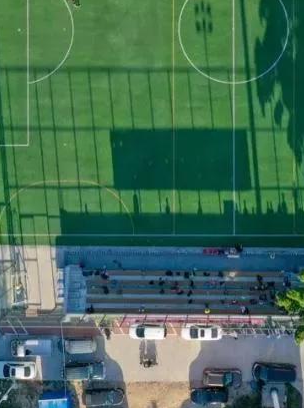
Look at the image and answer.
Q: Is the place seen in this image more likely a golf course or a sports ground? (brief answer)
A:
sports ground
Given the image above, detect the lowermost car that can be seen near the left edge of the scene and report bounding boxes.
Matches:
[0,360,37,381]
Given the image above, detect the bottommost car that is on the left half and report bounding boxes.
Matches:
[86,387,124,408]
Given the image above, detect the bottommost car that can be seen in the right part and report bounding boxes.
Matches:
[190,386,229,406]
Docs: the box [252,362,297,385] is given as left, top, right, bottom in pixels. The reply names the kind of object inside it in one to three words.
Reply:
car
